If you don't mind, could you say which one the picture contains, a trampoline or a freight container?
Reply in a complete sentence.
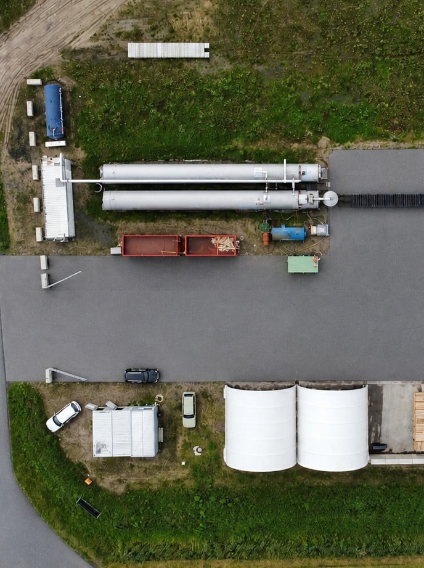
Looking from above, you can make out a freight container.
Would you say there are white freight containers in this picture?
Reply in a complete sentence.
Yes, looking at the shot, I can spot a white freight container.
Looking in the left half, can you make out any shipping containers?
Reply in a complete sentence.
Yes, a shipping container can be seen in the left half.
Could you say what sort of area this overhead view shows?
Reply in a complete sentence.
This looks like an industrial area.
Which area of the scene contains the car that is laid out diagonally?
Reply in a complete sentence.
The car that is laid out diagonally appears toward the bottom left of the photo.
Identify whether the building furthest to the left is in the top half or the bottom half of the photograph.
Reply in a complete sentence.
It is in the bottom half that the building furthest to the left appears.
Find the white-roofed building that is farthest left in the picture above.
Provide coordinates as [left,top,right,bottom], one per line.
[89,402,116,456]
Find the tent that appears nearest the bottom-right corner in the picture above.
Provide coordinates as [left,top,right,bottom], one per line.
[298,386,369,472]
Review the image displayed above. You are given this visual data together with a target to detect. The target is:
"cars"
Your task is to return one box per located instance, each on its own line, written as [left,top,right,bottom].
[46,400,82,432]
[125,367,160,385]
[180,391,197,428]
